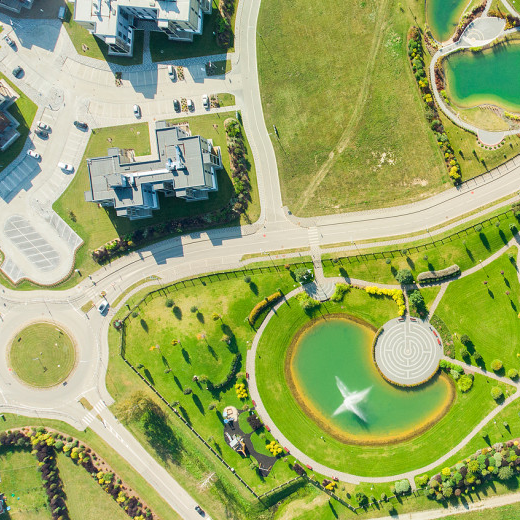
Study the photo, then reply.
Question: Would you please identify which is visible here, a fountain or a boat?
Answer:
fountain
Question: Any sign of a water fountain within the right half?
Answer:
Yes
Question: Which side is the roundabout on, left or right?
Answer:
left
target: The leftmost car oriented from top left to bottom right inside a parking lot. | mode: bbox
[1,34,17,47]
